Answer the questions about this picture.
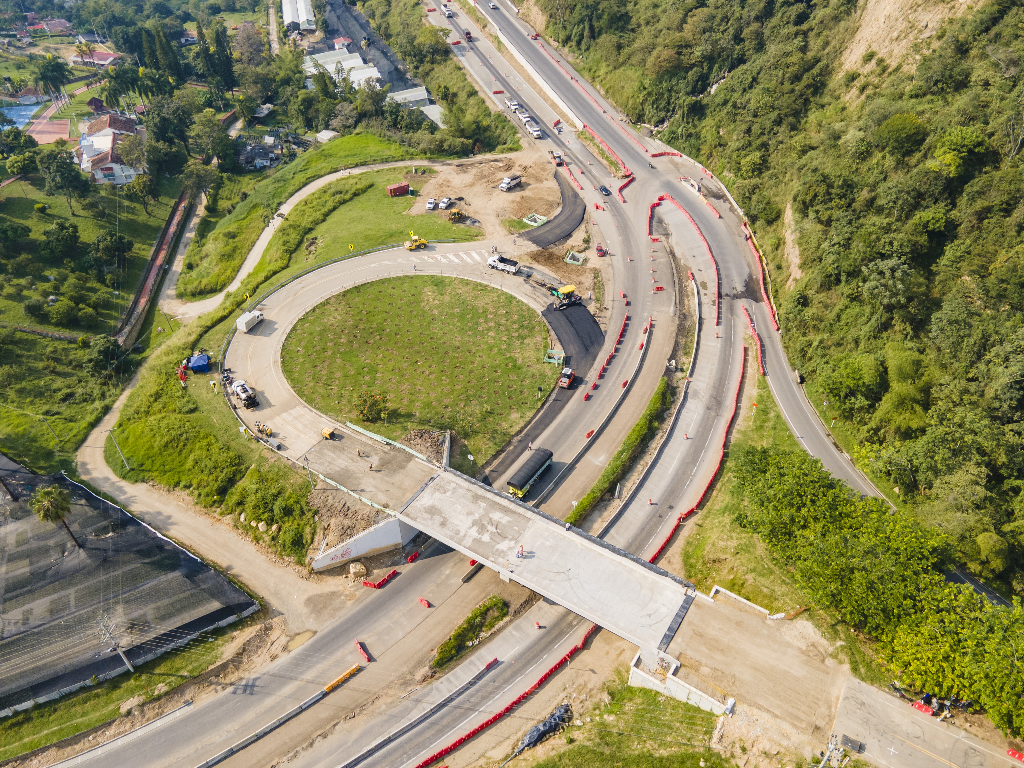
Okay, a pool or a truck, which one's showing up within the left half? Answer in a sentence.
It is a truck that can be seen within the left half.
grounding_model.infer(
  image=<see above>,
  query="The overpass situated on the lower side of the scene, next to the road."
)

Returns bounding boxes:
[310,427,697,657]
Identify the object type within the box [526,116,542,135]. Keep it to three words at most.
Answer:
vehicle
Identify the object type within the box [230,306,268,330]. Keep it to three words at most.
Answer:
truck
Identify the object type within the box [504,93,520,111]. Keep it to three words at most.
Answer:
vehicle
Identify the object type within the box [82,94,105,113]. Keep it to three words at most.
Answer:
gazebo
